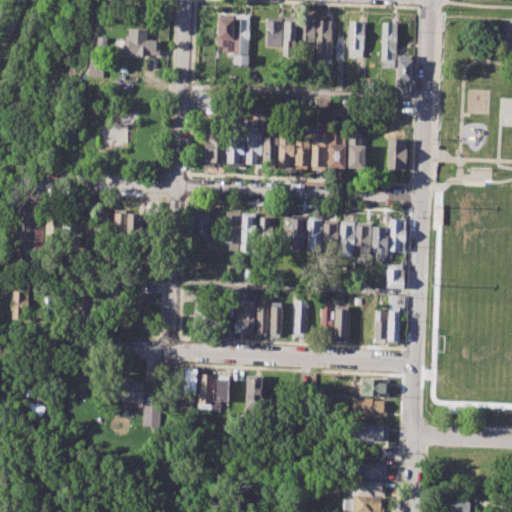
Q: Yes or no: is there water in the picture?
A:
No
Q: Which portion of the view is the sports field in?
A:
right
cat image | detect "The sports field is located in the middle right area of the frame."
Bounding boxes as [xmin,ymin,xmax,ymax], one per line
[436,186,512,403]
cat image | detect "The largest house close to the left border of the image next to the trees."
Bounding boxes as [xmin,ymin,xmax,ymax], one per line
[12,290,29,320]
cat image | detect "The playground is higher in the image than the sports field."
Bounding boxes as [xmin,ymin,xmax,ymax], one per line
[462,123,488,151]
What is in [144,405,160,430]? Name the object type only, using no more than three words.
building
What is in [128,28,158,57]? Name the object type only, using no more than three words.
house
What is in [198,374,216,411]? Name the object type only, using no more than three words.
house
